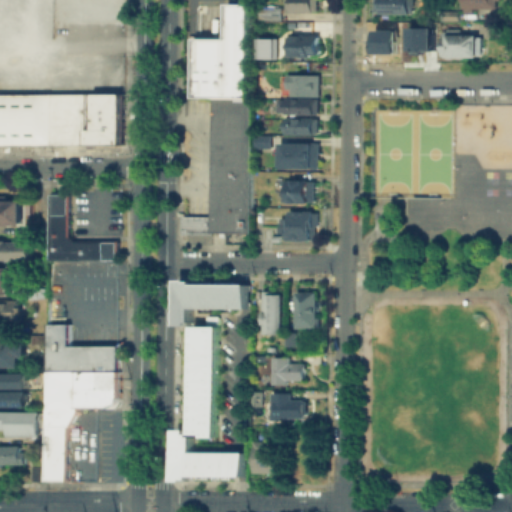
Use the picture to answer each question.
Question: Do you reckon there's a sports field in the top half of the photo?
No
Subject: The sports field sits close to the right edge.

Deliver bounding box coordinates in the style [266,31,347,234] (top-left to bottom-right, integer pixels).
[368,306,498,476]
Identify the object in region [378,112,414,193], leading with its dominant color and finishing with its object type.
green sports court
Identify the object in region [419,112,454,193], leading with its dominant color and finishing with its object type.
green sports court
